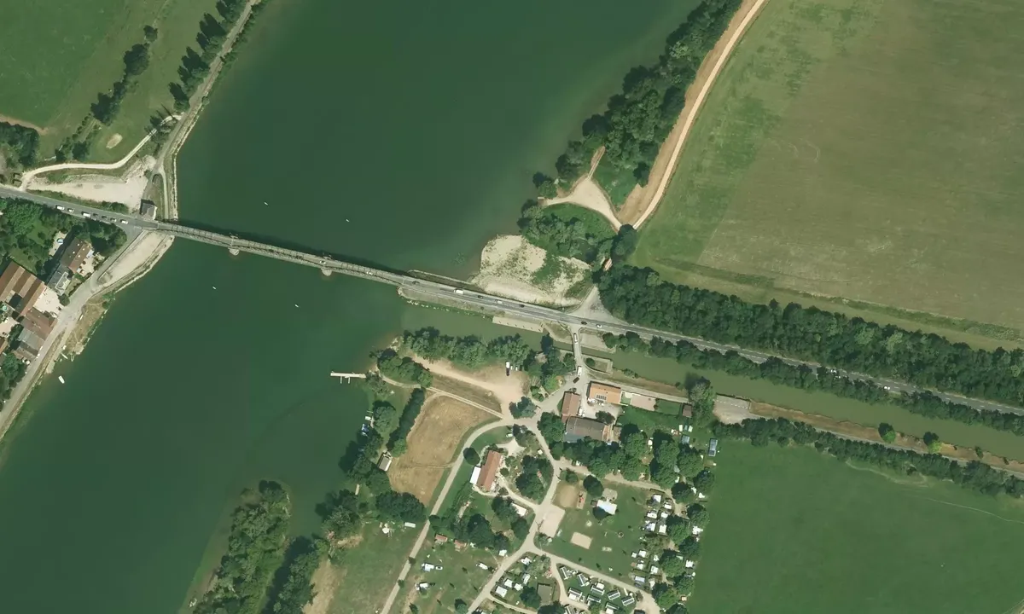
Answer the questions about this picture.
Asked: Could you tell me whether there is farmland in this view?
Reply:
Yes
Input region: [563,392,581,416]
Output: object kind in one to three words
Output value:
house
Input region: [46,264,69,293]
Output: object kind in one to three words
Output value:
house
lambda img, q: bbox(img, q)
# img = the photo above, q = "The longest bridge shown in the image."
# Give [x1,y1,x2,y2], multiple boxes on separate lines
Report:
[163,222,409,289]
